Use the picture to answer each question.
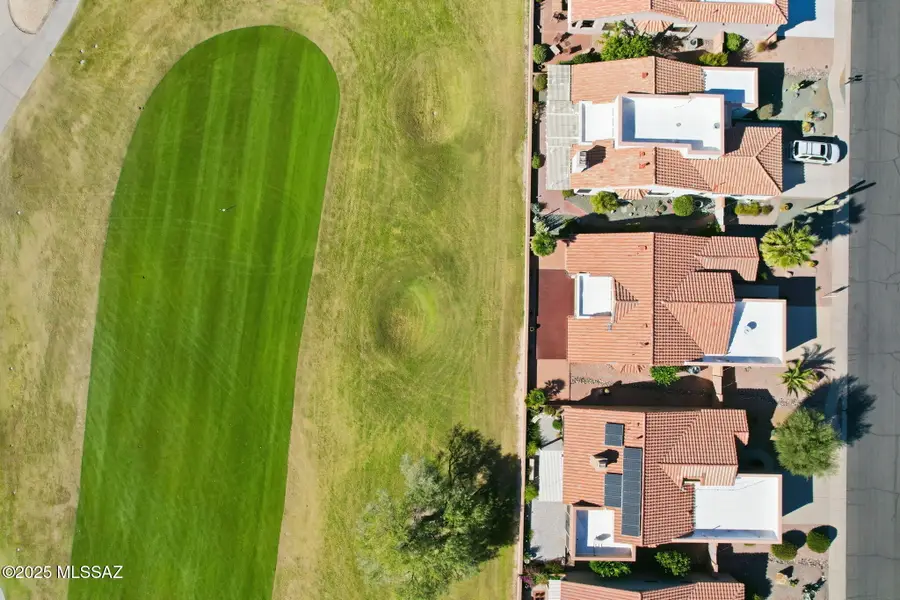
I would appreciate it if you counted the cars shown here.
1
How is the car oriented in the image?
from left to right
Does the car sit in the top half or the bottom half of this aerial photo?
top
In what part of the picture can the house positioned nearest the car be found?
top right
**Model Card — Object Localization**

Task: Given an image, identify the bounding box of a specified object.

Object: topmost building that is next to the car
[567,57,786,200]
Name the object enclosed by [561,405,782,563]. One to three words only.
house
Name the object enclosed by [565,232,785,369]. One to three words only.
house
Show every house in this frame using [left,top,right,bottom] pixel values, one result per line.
[565,232,785,369]
[561,405,782,563]
[559,572,748,600]
[568,0,790,34]
[567,57,786,200]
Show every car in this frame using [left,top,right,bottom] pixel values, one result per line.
[787,139,838,163]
